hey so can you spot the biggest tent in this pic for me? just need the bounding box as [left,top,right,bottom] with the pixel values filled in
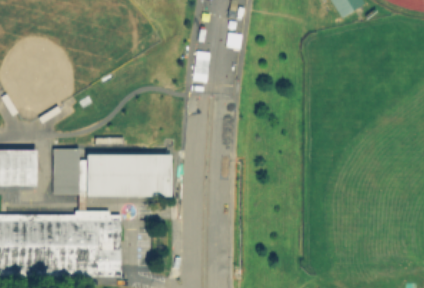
[193,50,210,83]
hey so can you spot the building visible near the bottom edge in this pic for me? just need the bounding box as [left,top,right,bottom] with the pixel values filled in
[0,210,120,276]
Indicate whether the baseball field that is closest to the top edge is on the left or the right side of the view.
left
